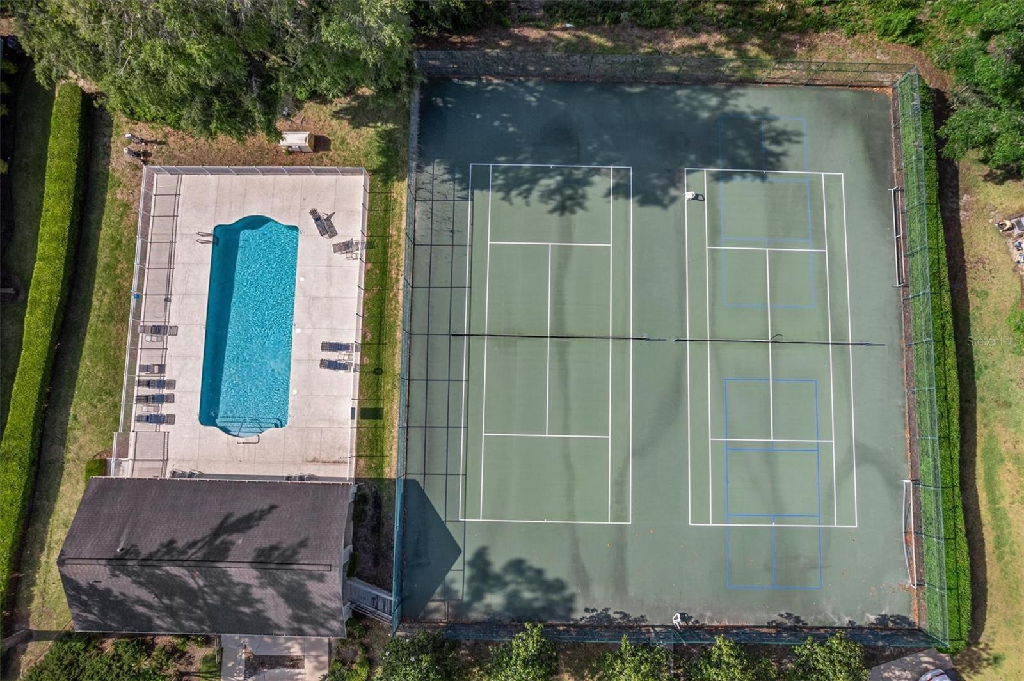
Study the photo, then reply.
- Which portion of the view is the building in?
bottom left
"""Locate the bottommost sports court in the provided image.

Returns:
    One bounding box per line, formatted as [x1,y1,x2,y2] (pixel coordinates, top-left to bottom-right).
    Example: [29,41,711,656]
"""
[724,379,823,590]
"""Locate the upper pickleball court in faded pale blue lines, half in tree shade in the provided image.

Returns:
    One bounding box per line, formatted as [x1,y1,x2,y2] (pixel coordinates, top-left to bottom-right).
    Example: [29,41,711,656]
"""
[718,115,814,309]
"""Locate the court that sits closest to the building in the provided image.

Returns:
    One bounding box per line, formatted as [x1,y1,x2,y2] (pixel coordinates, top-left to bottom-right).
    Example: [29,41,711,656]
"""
[460,163,632,523]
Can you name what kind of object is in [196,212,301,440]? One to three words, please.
swimming pool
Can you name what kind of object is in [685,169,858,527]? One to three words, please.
tennis court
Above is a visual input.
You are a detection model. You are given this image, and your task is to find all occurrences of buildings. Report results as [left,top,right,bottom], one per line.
[58,477,358,639]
